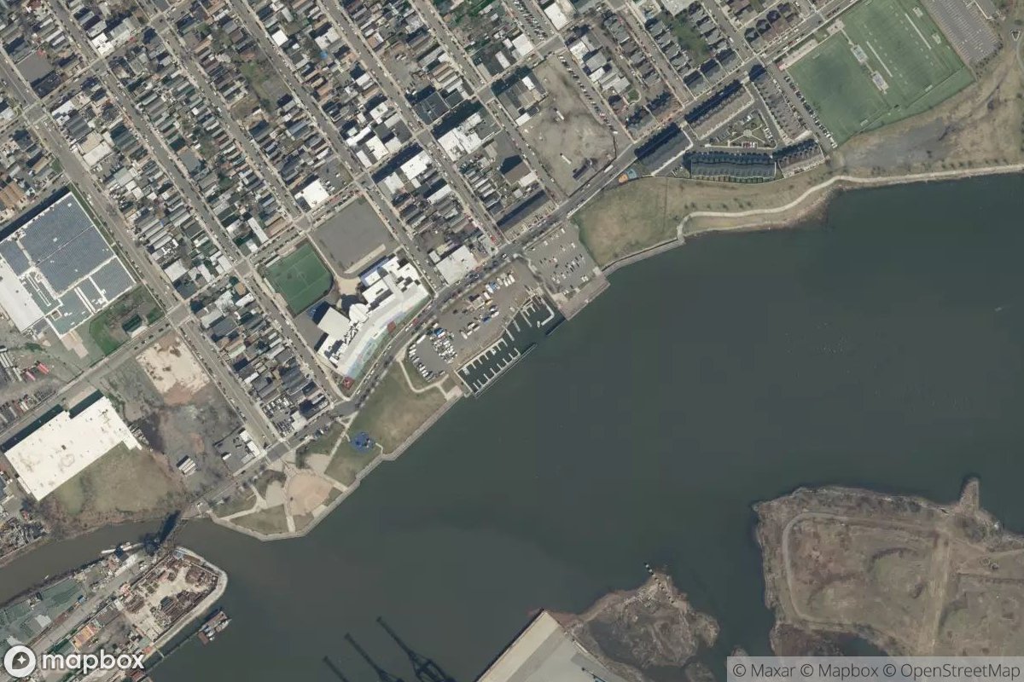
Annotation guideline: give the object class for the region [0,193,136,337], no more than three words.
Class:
warehouse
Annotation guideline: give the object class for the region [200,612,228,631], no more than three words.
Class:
ship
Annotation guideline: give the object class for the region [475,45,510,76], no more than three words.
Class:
building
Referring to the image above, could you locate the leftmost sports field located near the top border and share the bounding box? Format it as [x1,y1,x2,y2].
[787,22,893,142]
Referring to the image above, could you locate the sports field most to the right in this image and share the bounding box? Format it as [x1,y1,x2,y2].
[854,0,974,121]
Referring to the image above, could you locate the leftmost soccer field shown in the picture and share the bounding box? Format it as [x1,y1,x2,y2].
[262,240,333,316]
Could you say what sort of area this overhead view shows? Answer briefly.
residential area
